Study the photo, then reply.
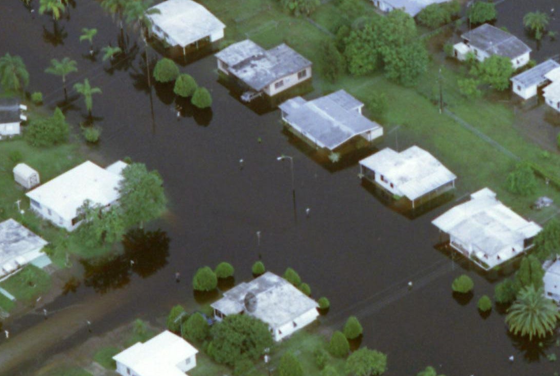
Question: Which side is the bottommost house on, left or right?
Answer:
left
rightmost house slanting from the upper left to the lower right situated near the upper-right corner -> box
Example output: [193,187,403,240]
[467,21,530,72]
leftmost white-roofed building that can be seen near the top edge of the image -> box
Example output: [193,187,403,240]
[150,0,227,59]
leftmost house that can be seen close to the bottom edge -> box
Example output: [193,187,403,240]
[111,328,197,376]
